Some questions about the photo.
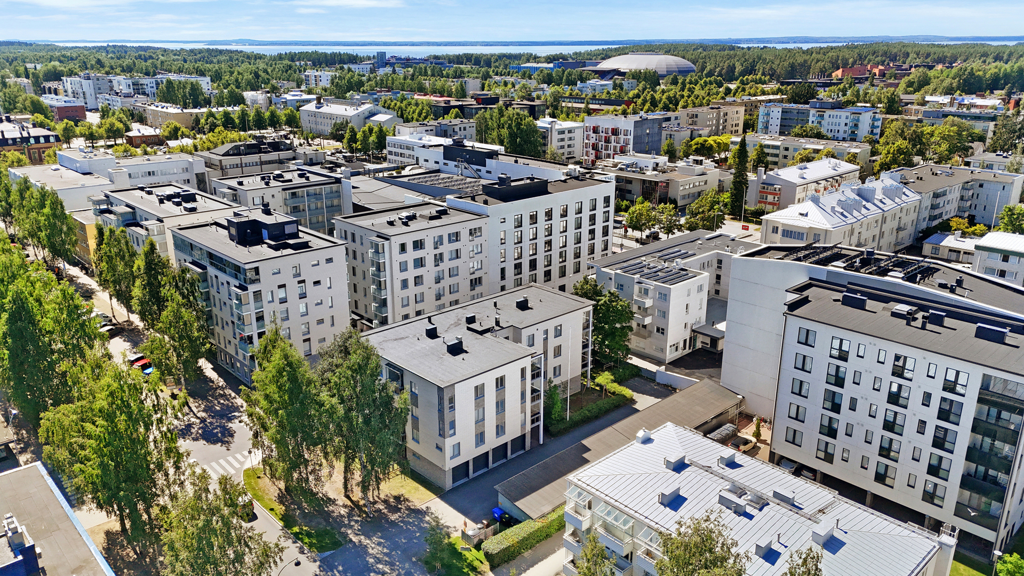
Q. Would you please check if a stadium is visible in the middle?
No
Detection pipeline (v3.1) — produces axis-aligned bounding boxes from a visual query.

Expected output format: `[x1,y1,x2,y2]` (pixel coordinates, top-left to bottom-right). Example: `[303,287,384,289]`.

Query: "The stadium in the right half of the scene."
[589,53,699,83]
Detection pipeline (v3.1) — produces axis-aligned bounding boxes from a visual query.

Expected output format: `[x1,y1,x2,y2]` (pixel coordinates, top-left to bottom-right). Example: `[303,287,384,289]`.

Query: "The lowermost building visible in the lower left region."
[0,461,114,576]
